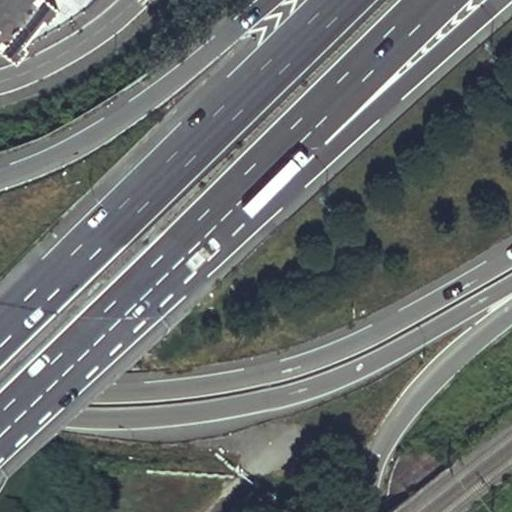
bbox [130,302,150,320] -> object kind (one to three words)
car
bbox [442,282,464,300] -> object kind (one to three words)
car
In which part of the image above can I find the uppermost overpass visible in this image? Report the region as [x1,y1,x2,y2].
[0,302,169,484]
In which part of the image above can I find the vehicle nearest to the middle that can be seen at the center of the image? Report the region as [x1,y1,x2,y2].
[188,240,220,270]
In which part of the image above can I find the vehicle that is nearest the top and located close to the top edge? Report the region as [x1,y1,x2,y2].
[240,6,261,28]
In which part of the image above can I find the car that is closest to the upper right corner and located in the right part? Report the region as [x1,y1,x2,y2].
[374,36,395,56]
